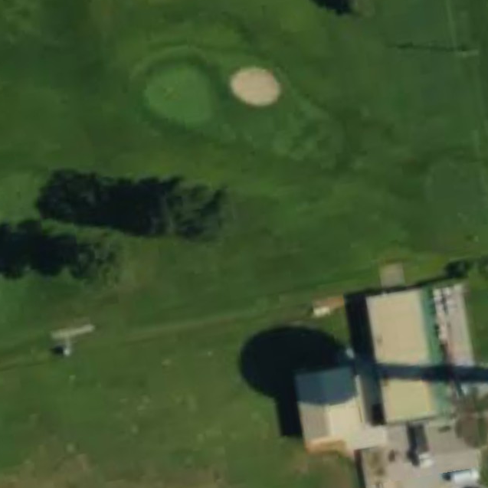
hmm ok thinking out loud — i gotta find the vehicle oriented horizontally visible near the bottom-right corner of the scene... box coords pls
[449,468,481,483]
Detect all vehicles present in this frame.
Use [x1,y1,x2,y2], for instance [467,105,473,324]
[415,427,433,465]
[449,468,481,483]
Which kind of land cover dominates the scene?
grass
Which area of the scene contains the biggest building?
bottom right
